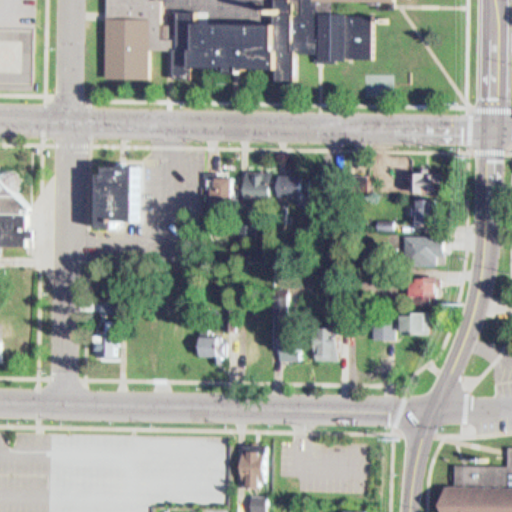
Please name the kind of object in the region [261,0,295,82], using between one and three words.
building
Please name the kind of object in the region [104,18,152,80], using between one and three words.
building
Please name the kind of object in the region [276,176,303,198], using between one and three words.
house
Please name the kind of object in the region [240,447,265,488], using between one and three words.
house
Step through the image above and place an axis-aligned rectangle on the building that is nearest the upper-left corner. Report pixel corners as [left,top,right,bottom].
[0,28,36,92]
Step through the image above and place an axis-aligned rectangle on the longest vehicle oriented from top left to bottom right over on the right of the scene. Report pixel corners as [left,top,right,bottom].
[404,410,420,426]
